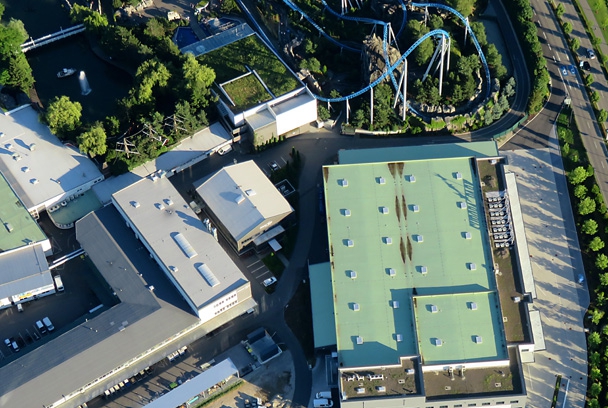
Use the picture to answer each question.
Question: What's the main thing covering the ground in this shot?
buildings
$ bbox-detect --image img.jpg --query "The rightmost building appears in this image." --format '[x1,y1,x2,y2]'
[309,141,545,408]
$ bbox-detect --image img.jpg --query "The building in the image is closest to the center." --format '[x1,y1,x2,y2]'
[200,160,294,255]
